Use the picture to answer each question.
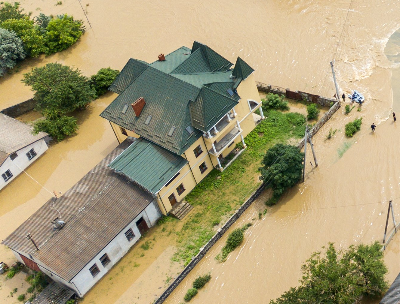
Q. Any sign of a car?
No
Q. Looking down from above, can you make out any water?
Yes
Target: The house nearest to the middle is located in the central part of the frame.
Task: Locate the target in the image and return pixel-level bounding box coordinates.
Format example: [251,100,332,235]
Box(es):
[97,42,273,218]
